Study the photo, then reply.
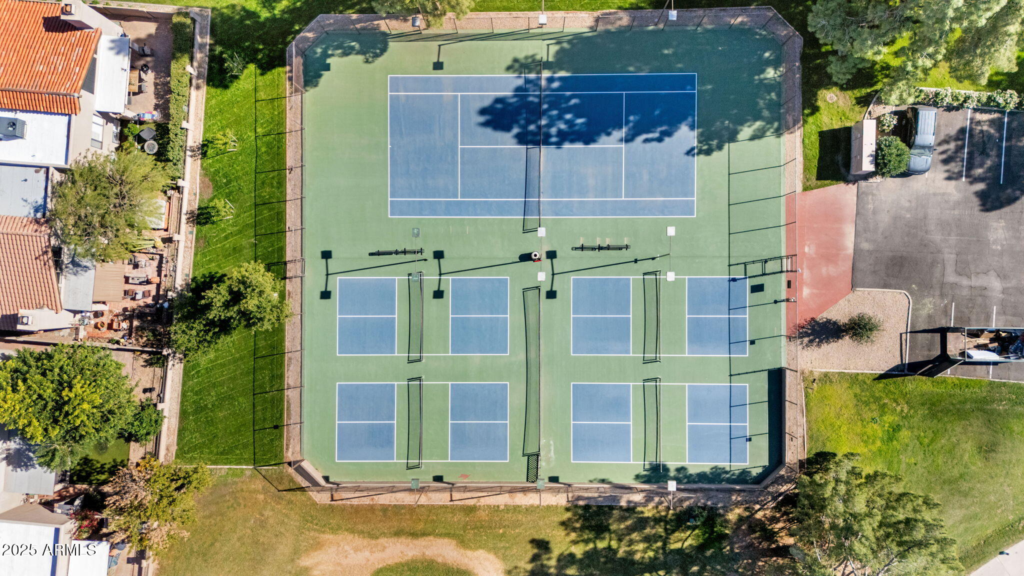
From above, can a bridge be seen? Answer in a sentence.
No, the frame has no bridge in it.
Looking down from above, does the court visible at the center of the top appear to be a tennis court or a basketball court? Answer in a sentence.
It turns out the court visible at the center of the top is a tennis court.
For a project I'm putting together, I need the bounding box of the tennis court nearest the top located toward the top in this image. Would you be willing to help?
[389,73,697,217]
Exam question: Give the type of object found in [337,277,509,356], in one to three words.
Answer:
sports court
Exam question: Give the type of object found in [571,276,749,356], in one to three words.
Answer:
sports court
